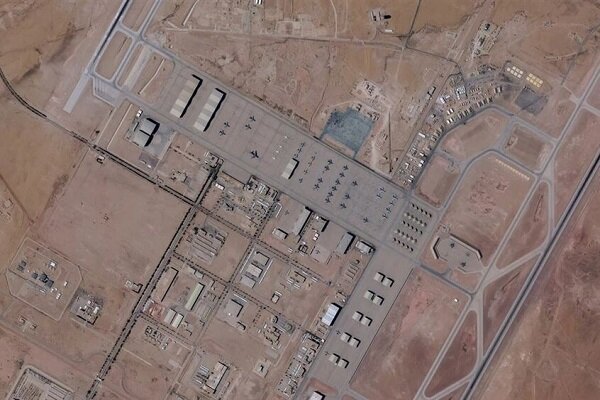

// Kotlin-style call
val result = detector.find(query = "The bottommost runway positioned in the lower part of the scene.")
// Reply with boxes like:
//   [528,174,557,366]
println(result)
[459,142,600,400]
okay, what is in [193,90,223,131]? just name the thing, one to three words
hangar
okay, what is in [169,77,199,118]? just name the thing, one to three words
hangar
